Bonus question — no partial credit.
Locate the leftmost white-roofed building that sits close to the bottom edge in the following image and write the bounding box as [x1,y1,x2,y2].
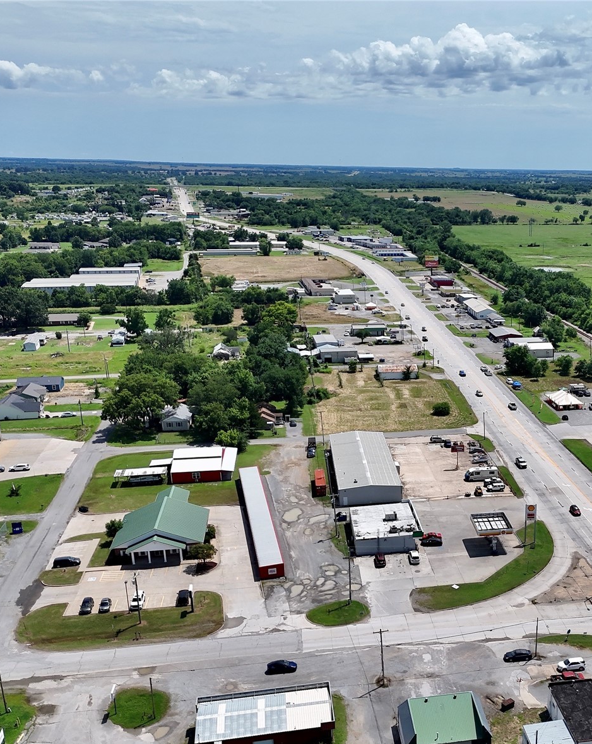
[192,671,339,744]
